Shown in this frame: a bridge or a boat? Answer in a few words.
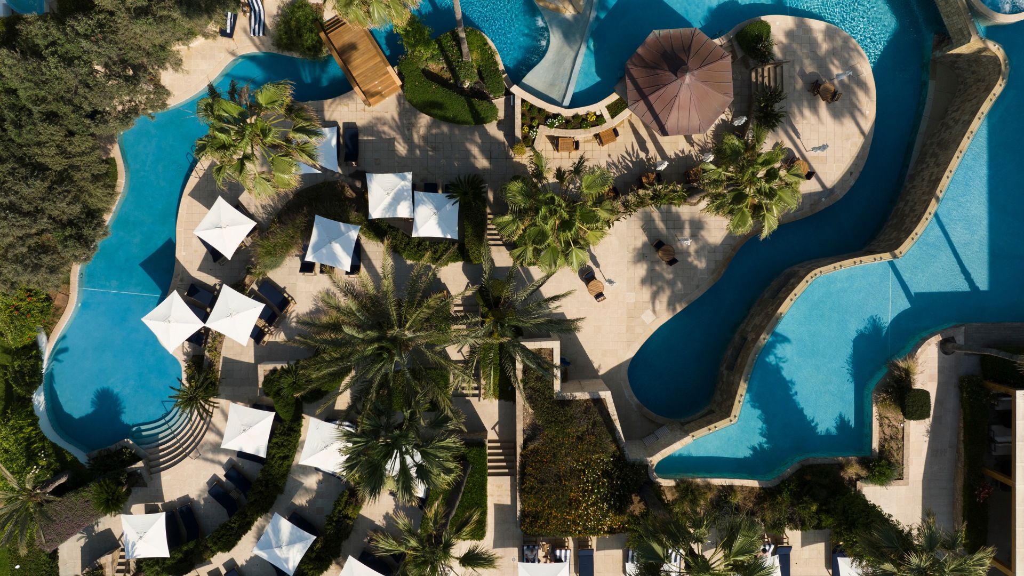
bridge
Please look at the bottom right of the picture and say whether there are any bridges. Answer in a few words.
No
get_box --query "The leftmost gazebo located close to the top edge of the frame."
[625,27,734,139]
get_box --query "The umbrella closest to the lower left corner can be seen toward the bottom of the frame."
[123,509,173,560]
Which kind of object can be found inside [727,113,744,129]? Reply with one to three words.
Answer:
umbrella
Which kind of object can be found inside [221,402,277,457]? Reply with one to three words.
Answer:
umbrella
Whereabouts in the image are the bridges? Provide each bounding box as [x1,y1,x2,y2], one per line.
[314,4,403,115]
